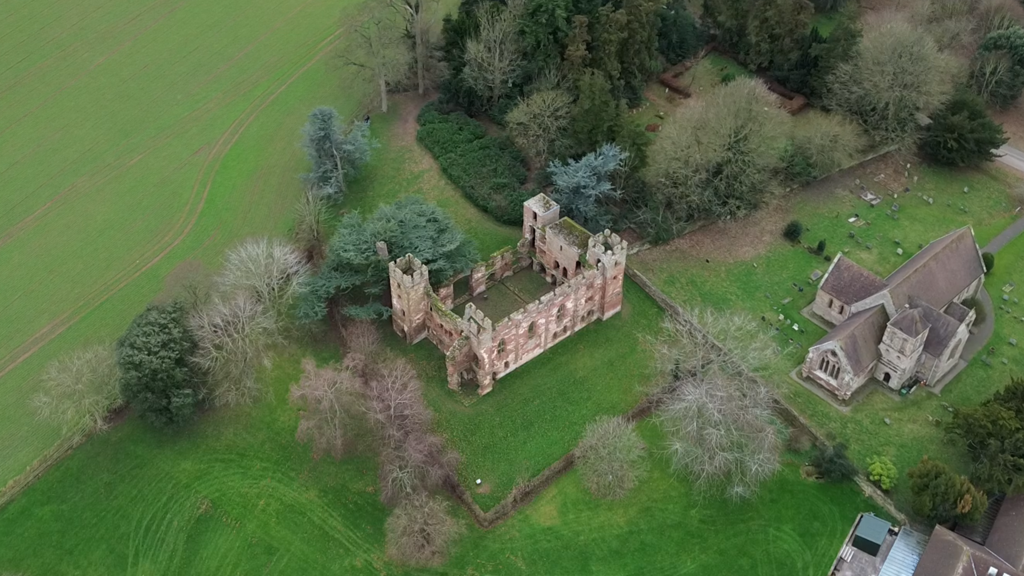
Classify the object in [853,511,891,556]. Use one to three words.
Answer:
shed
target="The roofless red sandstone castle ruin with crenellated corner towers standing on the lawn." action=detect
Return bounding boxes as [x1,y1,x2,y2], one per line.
[387,191,631,407]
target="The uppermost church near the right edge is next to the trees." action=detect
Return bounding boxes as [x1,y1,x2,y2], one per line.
[798,225,989,403]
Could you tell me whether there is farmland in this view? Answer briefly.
Yes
